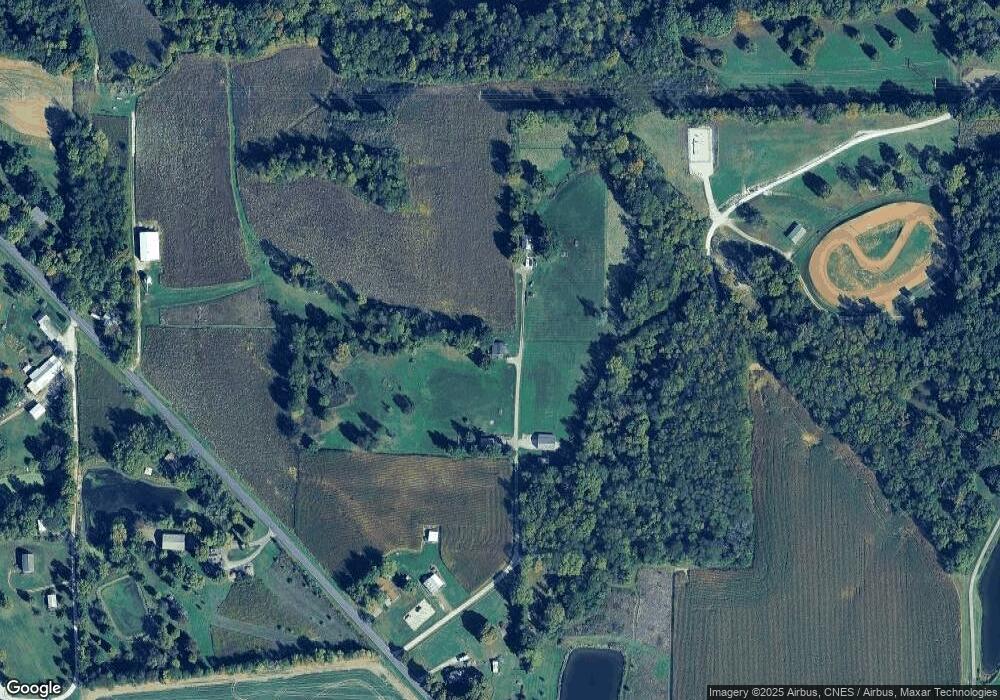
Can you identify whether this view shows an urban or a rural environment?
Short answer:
rural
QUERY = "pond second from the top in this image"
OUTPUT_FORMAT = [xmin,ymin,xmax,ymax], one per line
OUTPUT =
[979,542,1000,672]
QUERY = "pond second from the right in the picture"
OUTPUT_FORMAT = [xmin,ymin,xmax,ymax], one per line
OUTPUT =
[559,648,624,700]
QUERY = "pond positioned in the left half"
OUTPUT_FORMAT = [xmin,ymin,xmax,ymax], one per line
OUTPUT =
[82,469,196,531]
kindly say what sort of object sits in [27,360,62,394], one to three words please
barn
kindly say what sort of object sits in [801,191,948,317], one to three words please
race track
